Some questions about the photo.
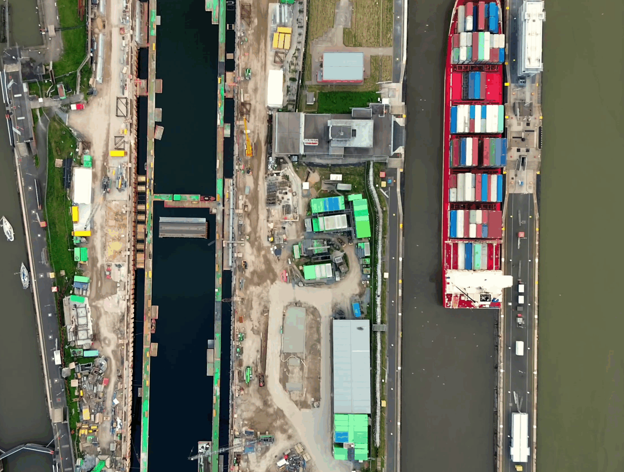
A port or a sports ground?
port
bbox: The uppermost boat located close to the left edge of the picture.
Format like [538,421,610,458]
[0,216,13,242]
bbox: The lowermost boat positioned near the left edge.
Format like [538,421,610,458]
[12,264,29,290]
